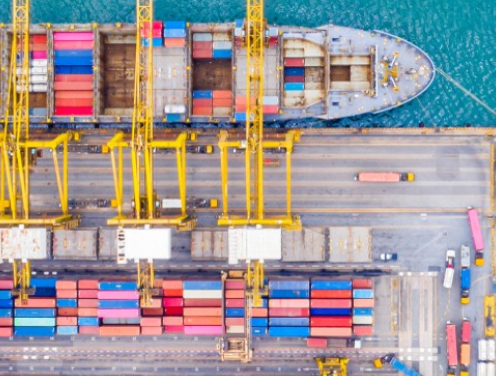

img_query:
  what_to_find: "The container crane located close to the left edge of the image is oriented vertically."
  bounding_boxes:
[0,0,83,303]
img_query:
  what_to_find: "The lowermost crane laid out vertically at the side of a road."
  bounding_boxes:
[215,264,260,362]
